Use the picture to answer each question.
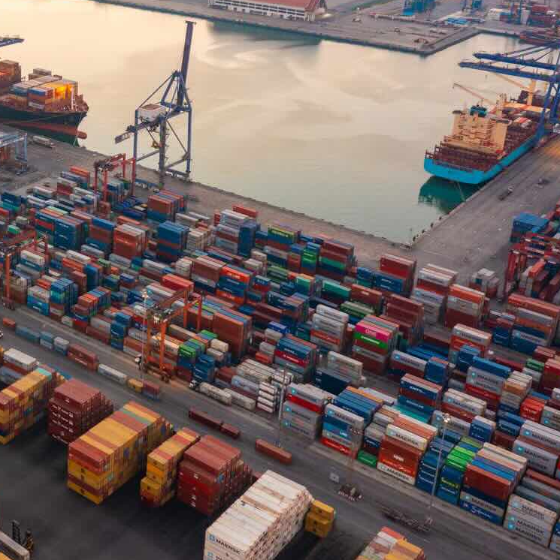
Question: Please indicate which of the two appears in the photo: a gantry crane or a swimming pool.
gantry crane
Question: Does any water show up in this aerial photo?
Yes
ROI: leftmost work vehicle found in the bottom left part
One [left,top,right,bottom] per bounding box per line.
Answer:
[9,512,43,553]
